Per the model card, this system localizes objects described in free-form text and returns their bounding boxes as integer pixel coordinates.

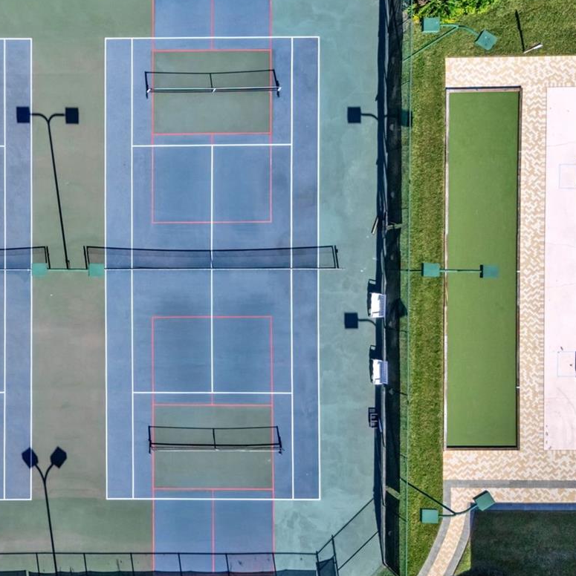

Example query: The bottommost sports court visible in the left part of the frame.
[152,316,275,576]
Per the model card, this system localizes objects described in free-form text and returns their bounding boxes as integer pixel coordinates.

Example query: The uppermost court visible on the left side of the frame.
[152,0,272,223]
